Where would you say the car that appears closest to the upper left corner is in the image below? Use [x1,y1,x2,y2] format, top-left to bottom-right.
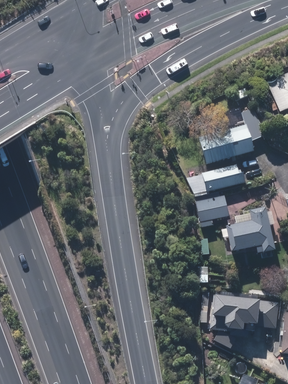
[34,15,52,28]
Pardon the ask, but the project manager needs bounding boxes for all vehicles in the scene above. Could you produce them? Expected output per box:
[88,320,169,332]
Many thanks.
[165,58,188,74]
[94,0,108,6]
[242,158,258,166]
[137,31,153,42]
[248,6,268,17]
[156,0,172,8]
[0,148,9,167]
[36,62,54,70]
[244,168,262,178]
[134,8,150,19]
[159,22,178,34]
[0,68,12,80]
[18,252,29,271]
[34,15,52,28]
